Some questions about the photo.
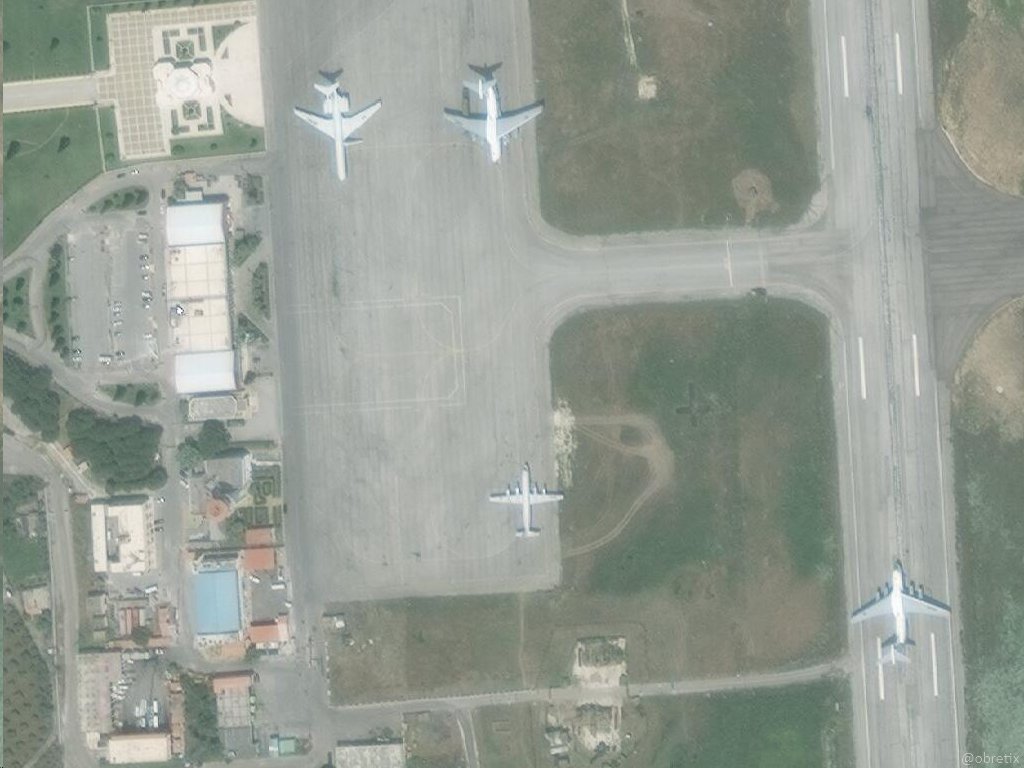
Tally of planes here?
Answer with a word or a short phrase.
4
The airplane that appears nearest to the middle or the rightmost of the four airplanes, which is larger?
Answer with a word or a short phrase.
the rightmost of the four airplanes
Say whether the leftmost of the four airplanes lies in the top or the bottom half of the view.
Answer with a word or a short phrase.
top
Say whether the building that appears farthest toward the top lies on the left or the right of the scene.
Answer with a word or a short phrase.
left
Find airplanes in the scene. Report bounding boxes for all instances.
[849,559,949,663]
[295,81,380,180]
[489,462,563,541]
[442,75,542,162]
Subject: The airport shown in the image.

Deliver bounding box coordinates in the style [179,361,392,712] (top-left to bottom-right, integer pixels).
[259,0,1024,768]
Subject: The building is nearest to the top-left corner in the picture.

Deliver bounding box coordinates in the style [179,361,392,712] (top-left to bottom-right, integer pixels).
[154,58,218,105]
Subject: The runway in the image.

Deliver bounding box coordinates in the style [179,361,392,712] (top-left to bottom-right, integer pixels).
[825,0,959,768]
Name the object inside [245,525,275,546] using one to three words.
house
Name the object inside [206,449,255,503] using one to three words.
building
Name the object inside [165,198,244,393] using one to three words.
building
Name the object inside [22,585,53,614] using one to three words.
house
